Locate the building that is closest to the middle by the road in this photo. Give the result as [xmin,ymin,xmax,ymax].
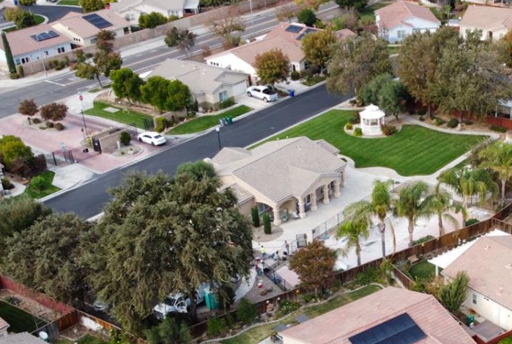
[209,134,349,227]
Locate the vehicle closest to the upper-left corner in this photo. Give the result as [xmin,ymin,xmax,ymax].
[137,132,165,145]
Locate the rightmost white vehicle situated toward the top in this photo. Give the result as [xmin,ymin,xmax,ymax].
[248,86,274,100]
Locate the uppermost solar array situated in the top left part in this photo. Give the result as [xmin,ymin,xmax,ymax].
[82,13,114,27]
